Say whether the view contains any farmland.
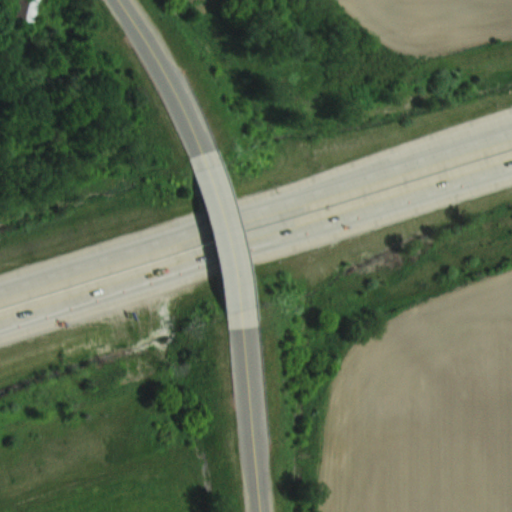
Yes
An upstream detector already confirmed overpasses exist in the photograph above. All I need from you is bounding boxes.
[190,149,260,330]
